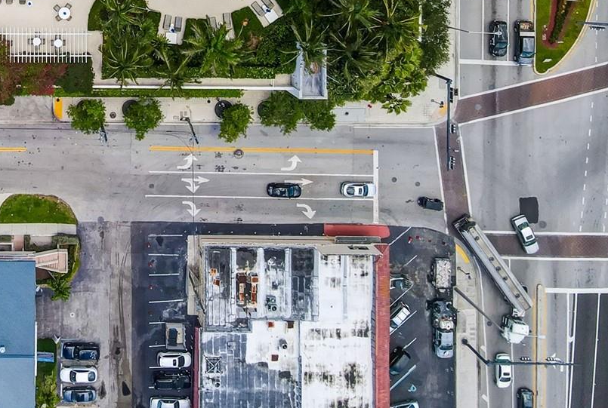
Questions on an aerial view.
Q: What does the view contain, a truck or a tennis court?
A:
truck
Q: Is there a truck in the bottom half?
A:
Yes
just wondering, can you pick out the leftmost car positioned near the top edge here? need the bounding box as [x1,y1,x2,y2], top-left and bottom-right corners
[488,19,510,58]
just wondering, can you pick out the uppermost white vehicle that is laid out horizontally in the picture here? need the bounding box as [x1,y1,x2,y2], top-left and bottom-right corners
[339,182,375,199]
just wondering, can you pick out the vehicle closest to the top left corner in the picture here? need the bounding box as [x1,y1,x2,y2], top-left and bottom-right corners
[266,182,301,198]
